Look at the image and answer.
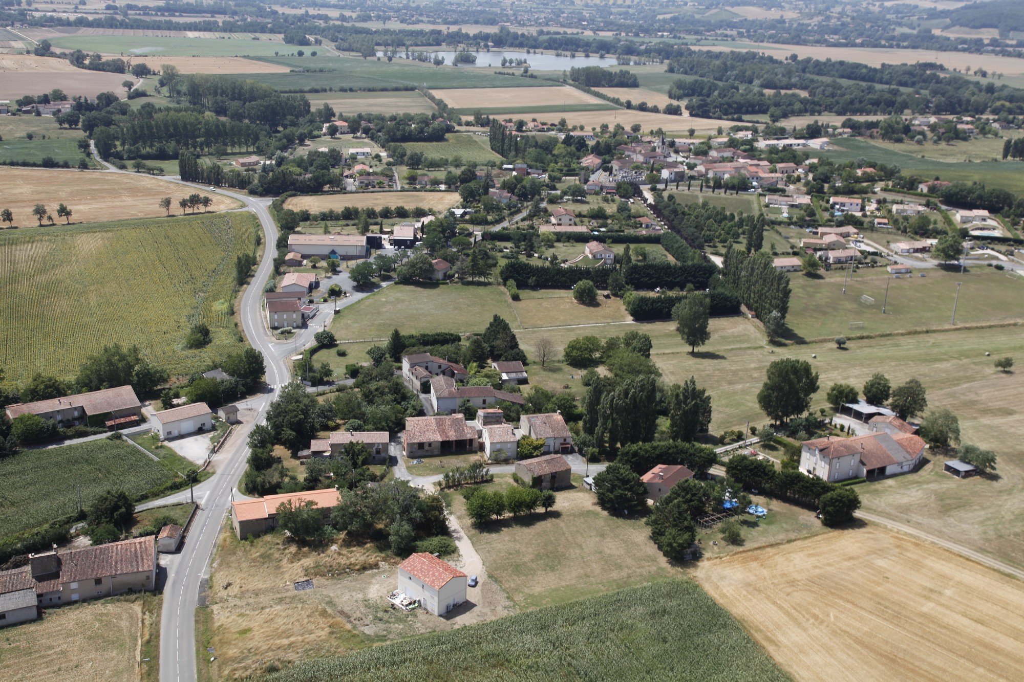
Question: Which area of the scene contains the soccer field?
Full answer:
The soccer field is located in the right region of the scene.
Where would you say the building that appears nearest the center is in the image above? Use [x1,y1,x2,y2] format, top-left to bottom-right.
[497,361,532,388]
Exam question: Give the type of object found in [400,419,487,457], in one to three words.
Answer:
barn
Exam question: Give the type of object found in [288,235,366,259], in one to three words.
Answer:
building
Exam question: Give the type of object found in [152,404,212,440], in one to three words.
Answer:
building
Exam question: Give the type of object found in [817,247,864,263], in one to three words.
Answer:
house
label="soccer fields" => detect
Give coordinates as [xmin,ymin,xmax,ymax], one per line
[785,270,1024,343]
